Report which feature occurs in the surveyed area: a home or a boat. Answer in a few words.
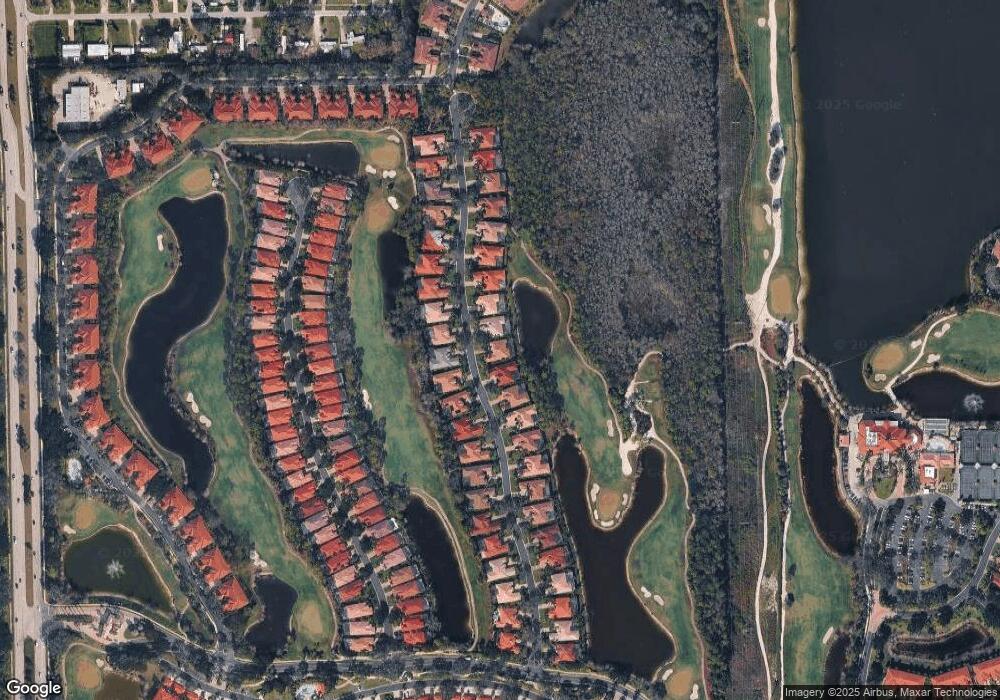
home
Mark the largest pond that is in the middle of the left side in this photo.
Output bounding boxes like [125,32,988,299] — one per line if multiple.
[125,191,229,493]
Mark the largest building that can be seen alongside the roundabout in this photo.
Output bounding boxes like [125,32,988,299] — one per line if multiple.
[859,421,927,462]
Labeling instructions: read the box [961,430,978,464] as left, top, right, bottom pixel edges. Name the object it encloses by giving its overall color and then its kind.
gray tennis court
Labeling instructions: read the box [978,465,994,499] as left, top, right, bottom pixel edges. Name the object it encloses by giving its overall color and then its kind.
gray tennis court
